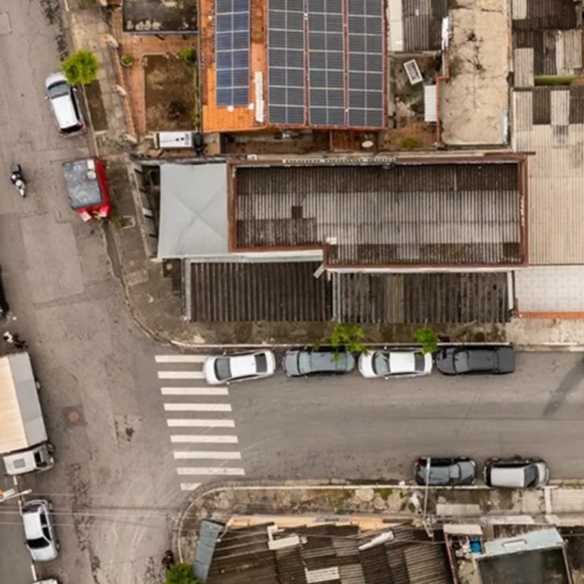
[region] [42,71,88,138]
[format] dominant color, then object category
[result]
white car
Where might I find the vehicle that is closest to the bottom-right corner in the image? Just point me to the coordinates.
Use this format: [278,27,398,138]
[483,455,550,493]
